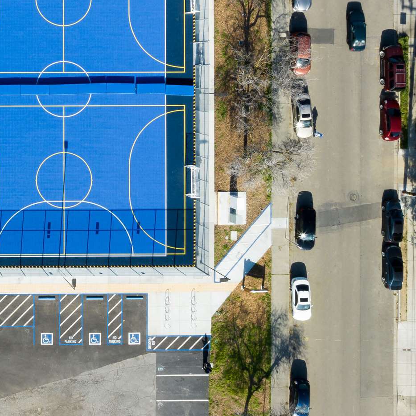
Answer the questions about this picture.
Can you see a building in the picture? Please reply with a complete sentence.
No, no building is visible in the view.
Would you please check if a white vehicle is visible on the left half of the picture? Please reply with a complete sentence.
No, looking on the left half of the picture, there is no white vehicle.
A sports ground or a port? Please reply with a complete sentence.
This looks like a sports ground.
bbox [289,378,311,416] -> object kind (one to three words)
car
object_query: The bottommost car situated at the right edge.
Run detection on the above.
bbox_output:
[381,245,406,290]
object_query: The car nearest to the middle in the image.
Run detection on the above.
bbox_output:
[293,207,317,250]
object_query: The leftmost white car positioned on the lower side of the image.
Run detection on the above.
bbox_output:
[290,277,313,320]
